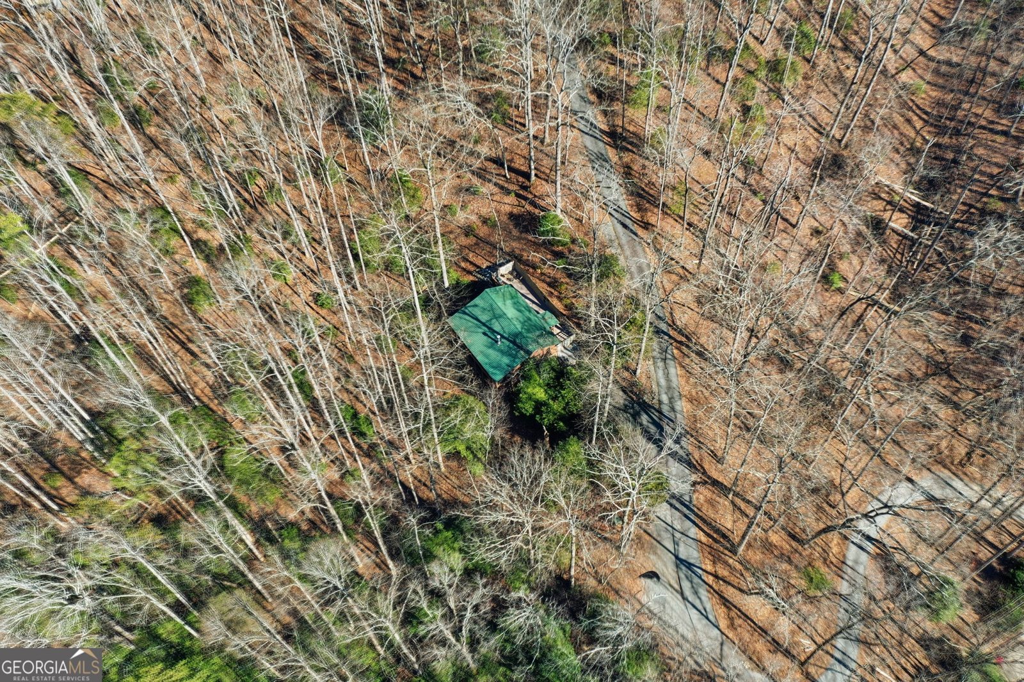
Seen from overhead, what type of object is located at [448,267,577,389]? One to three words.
house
